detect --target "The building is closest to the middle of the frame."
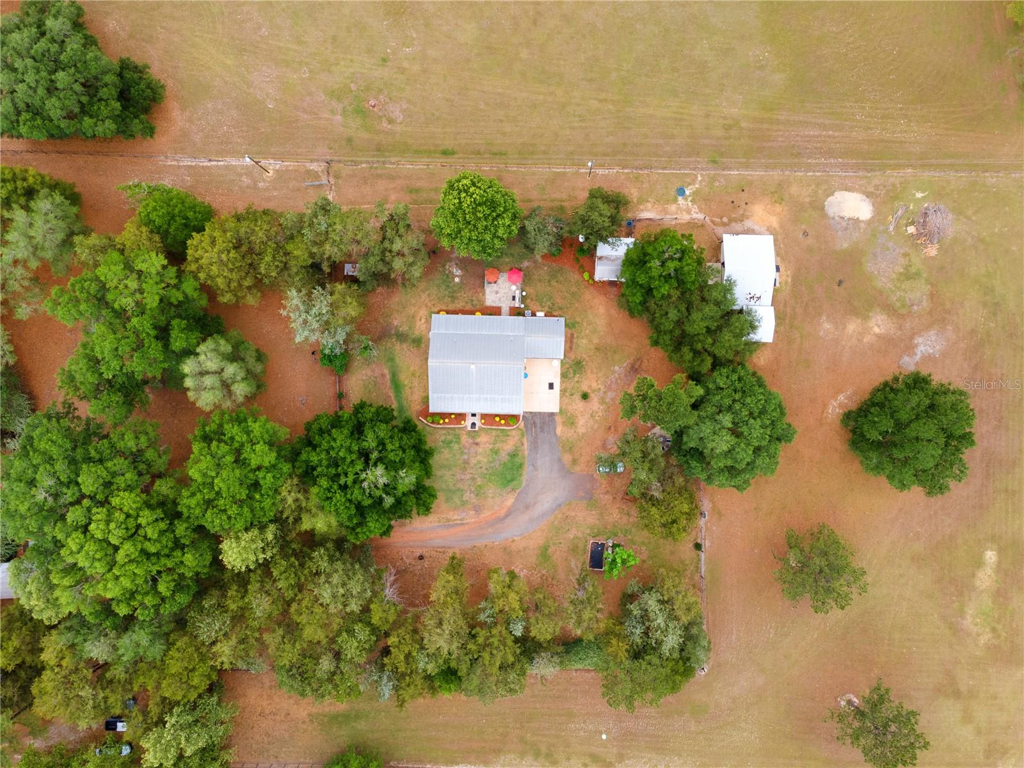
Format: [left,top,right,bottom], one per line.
[428,313,566,415]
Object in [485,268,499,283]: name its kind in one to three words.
umbrella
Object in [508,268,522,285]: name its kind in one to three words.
umbrella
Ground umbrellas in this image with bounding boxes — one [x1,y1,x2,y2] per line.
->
[508,268,522,285]
[485,268,499,283]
